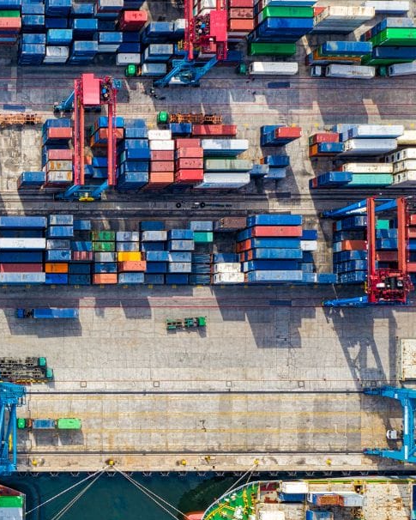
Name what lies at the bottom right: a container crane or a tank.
container crane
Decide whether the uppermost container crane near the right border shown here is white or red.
red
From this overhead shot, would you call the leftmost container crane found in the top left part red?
Yes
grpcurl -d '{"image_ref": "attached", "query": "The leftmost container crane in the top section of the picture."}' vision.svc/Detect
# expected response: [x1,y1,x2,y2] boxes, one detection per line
[54,71,126,203]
